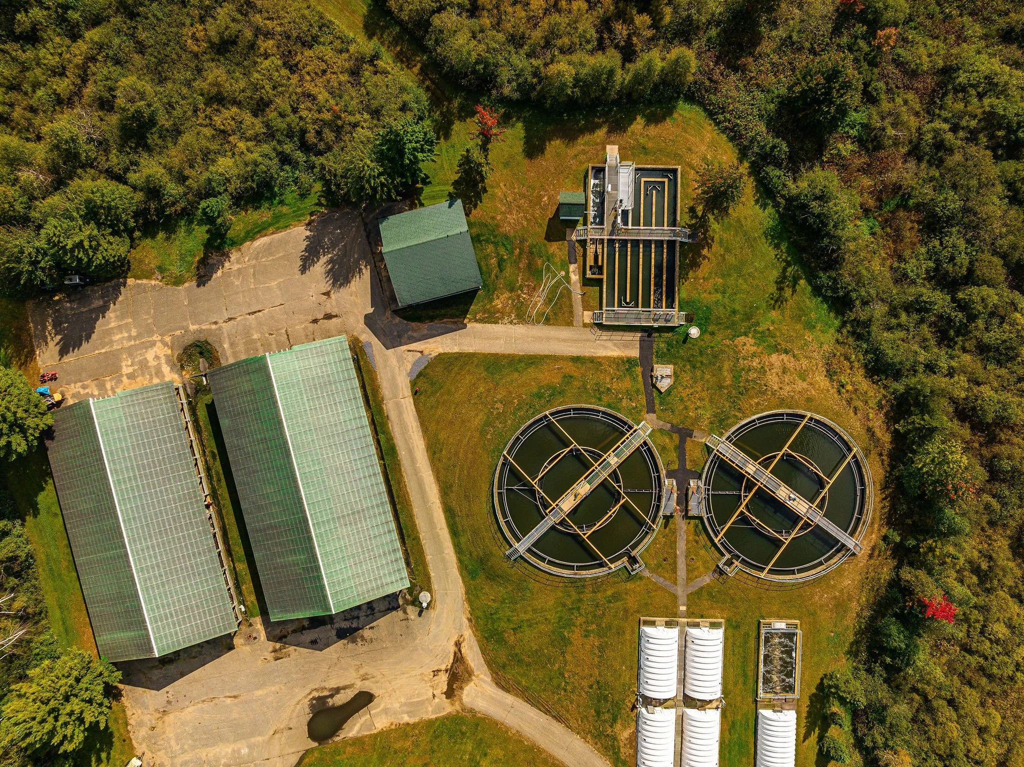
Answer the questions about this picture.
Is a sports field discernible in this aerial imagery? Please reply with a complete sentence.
No, no sports field can be seen from above.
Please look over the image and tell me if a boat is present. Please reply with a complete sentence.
No, the picture doesn't show any boat.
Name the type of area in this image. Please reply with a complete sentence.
What you see here is an industrial area.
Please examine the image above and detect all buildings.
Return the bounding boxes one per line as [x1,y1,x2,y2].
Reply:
[378,199,482,307]
[207,335,410,622]
[559,192,586,222]
[42,381,248,666]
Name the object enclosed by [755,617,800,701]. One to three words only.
storage tank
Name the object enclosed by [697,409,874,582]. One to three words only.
storage tank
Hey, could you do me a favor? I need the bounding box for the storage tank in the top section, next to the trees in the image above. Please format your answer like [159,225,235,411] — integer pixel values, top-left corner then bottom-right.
[574,145,697,330]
